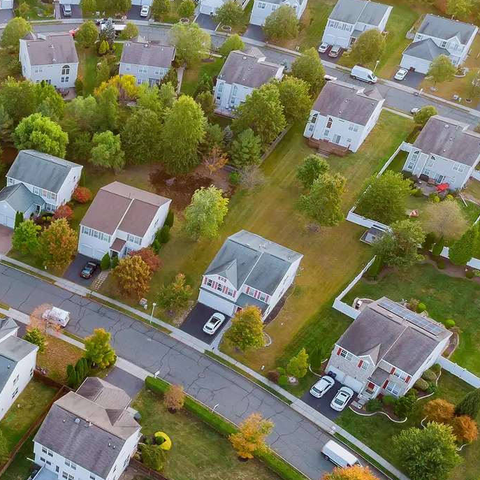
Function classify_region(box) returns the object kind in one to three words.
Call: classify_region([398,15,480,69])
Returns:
house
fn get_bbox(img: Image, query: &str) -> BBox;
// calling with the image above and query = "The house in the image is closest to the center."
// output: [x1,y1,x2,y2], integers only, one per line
[202,230,304,320]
